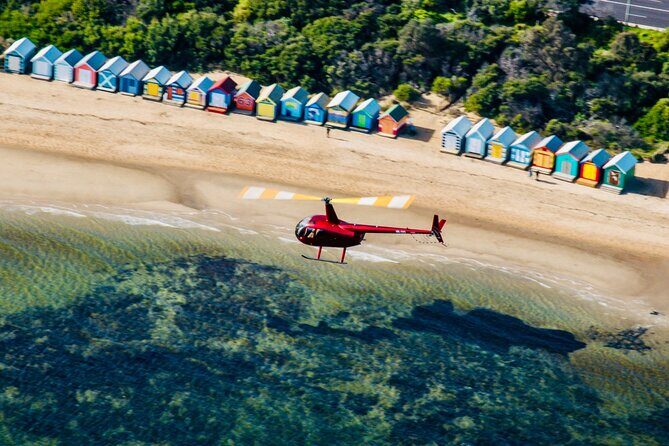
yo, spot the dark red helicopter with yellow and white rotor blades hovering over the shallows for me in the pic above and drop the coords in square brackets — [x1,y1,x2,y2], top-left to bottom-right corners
[245,191,447,262]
